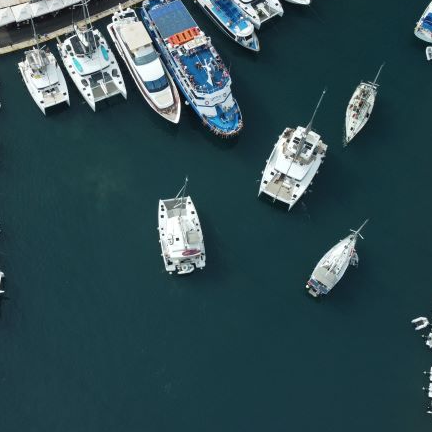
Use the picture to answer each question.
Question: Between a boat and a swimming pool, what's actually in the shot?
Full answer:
The image shows a boat.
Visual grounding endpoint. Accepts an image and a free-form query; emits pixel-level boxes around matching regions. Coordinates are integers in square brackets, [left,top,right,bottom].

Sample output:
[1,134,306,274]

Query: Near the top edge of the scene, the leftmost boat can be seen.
[20,18,71,124]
